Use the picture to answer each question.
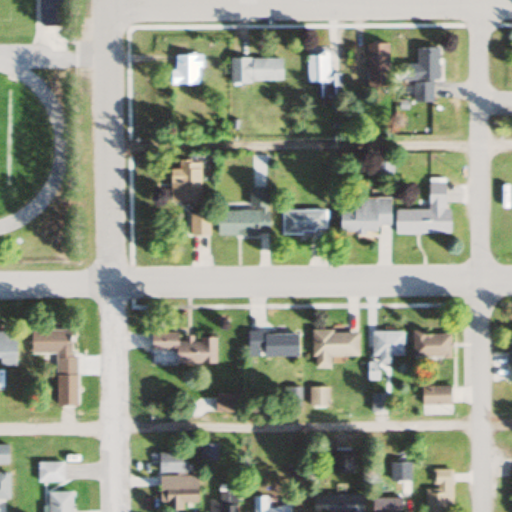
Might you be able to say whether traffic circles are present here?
No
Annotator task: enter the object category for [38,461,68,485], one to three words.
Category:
building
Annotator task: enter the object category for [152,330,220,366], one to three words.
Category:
house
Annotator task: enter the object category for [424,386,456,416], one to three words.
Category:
building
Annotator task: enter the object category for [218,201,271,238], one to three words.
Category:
house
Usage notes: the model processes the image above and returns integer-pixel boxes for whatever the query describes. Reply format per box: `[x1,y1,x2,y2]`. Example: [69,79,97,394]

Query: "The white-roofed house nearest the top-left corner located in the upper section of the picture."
[172,51,206,86]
